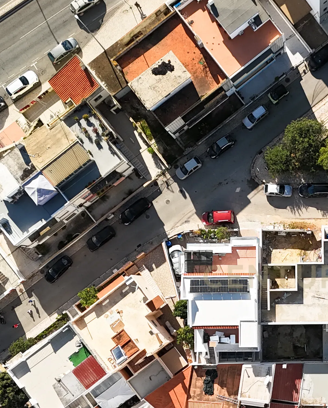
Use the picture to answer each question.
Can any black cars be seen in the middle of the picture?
Yes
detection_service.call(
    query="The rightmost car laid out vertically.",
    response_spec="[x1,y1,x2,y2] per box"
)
[165,246,181,281]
